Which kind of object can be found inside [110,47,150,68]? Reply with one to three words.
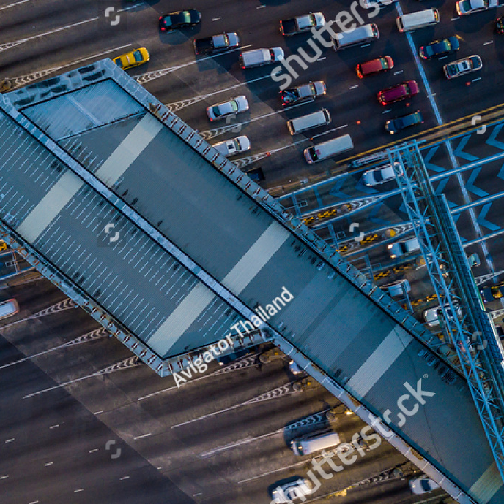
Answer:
car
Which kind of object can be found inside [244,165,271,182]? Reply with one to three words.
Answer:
vehicle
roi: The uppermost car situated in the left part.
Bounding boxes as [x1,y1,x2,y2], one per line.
[160,10,199,30]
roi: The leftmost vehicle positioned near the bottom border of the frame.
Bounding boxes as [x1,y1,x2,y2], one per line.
[271,477,313,501]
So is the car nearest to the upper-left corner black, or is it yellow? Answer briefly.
yellow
